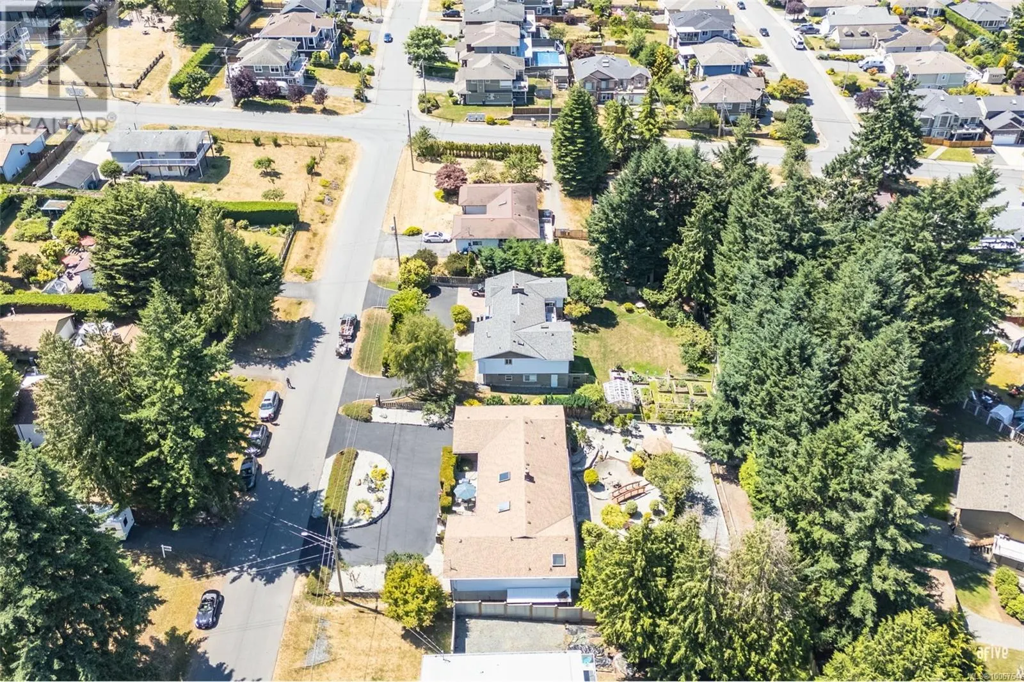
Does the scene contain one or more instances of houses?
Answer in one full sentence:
Yes, the picture does show a house.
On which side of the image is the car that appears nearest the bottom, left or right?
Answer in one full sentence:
It is on the left.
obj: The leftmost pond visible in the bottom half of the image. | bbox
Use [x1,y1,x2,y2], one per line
[591,458,648,511]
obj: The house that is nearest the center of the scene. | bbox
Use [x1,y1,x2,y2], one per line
[473,266,576,392]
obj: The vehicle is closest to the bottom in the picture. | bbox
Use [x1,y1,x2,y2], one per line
[194,584,225,628]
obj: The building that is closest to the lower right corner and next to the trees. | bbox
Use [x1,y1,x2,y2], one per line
[946,439,1024,567]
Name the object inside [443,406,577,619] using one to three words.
house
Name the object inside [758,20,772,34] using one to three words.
car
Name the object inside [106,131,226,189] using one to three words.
house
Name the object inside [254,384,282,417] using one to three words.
car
